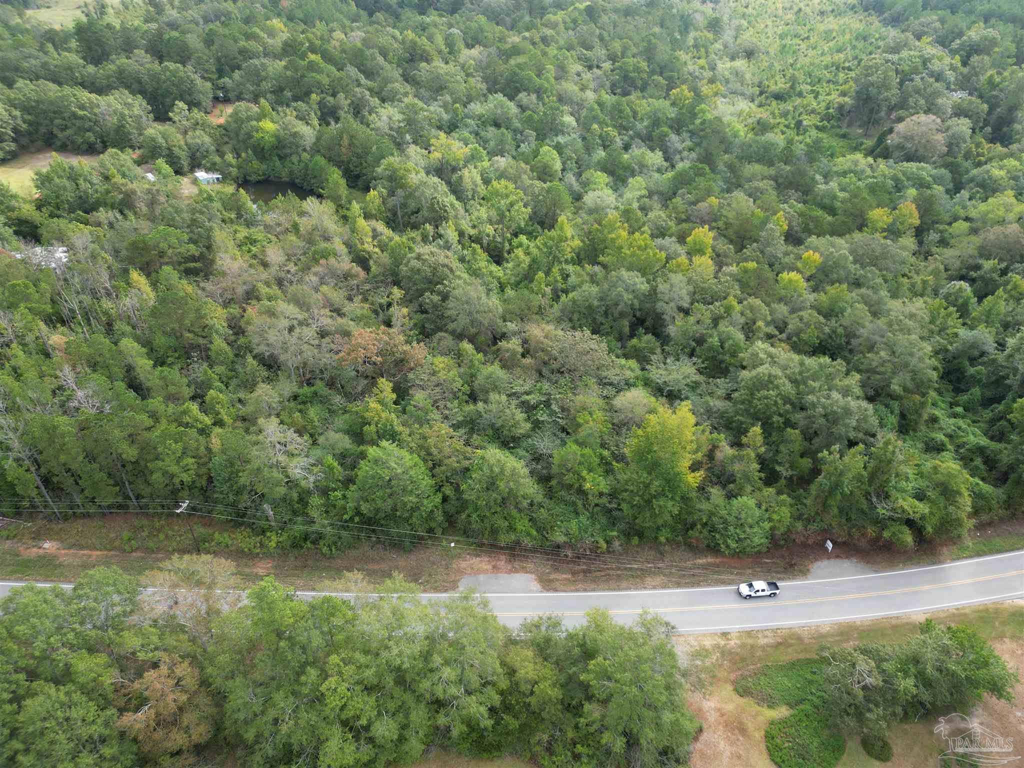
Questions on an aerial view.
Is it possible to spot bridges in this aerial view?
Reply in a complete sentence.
No, the frame has no bridge in it.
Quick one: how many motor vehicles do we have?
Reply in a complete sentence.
The count comes to 1 motor vehicle.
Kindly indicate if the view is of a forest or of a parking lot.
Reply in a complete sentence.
The area seen from above is a forest.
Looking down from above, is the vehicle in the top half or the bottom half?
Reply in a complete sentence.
The vehicle is in the bottom half of the image.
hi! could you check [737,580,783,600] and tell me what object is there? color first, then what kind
white vehicle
